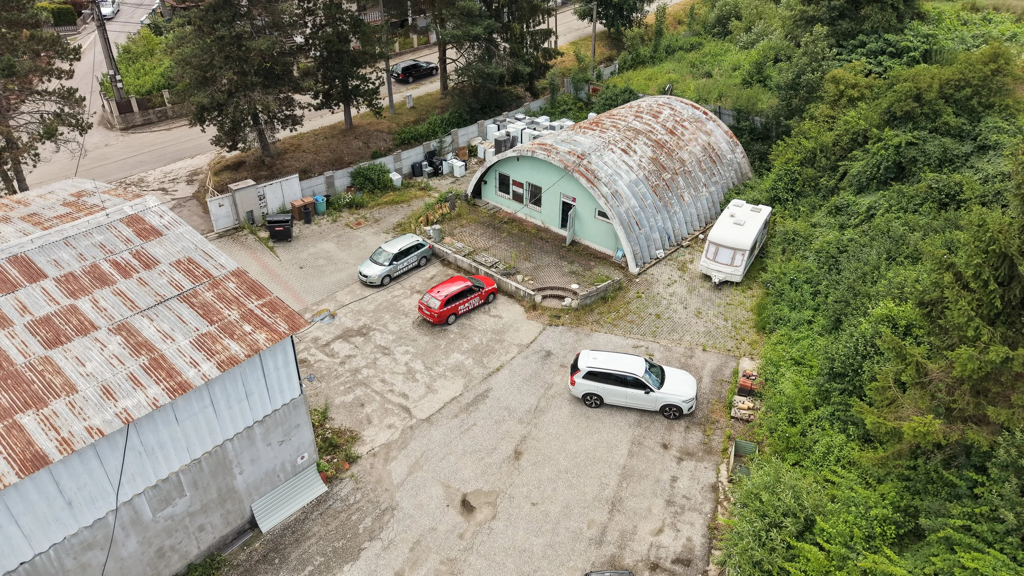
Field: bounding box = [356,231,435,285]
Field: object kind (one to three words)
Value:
car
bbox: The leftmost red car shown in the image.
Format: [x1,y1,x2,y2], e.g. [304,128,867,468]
[415,275,500,325]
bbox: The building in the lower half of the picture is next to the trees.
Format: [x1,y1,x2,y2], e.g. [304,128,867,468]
[0,153,318,576]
